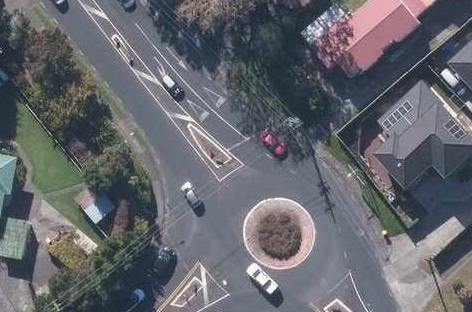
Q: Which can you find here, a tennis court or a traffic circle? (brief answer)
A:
traffic circle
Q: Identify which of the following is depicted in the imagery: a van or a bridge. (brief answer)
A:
van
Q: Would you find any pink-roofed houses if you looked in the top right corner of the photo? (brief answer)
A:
Yes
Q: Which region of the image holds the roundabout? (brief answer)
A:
bottom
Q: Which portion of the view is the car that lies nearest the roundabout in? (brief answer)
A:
bottom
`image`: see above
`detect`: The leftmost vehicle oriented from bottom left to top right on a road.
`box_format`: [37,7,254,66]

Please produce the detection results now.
[119,288,146,312]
